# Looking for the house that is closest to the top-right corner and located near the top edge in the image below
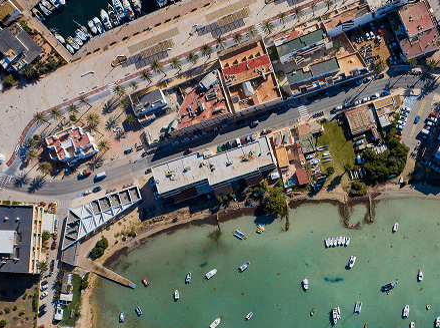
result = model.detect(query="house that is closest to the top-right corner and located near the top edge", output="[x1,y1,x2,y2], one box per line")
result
[395,0,436,40]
